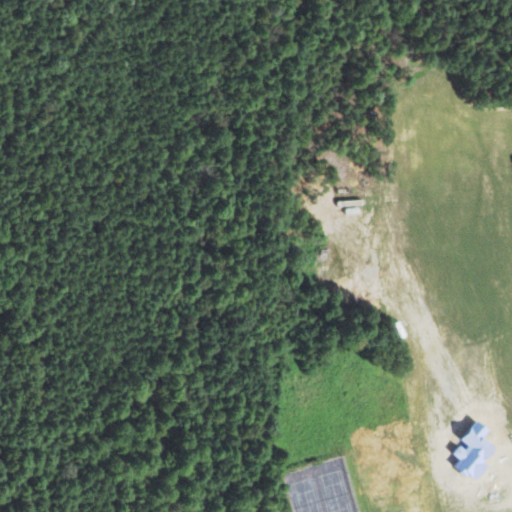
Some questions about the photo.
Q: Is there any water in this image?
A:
No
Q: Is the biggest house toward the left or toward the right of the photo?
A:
right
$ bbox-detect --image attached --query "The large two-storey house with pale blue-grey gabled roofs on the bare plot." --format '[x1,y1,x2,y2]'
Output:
[454,422,497,480]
